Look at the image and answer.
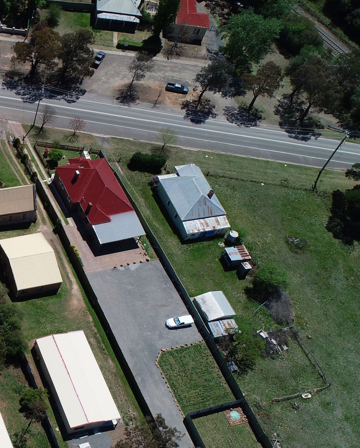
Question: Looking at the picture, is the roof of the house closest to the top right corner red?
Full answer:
Yes, the roof of the house closest to the top right corner is indeed red.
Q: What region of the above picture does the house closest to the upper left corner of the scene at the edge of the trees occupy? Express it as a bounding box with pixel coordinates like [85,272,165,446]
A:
[94,0,142,31]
